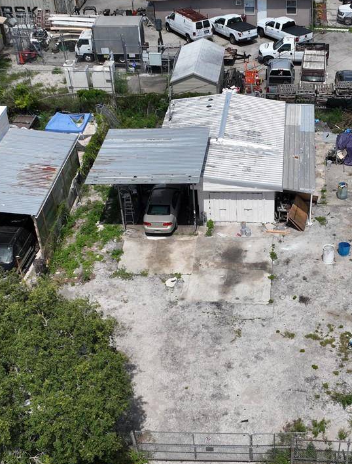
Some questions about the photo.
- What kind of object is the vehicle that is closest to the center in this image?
car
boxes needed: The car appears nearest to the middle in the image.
[141,187,196,236]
